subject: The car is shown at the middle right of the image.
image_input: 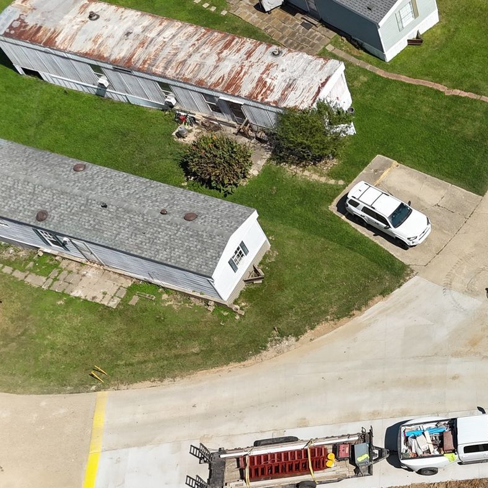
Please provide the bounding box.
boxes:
[344,180,432,249]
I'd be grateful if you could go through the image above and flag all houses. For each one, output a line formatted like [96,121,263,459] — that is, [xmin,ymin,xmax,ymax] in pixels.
[0,141,270,304]
[287,0,442,63]
[0,0,360,143]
